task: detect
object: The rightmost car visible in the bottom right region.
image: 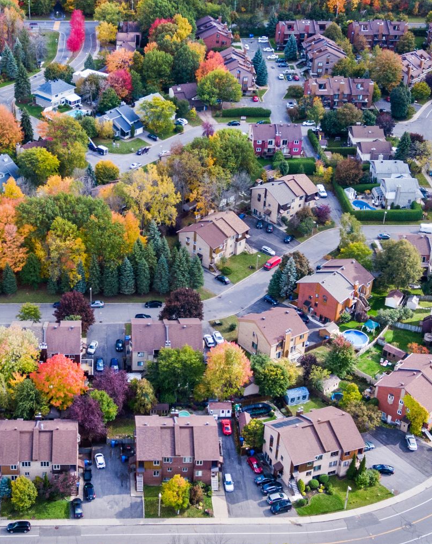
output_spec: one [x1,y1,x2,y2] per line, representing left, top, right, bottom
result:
[406,432,419,448]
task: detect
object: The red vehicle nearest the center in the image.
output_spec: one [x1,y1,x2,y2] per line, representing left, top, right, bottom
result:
[264,252,282,266]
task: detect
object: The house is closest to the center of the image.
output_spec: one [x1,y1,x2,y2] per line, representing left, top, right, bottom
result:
[182,210,256,270]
